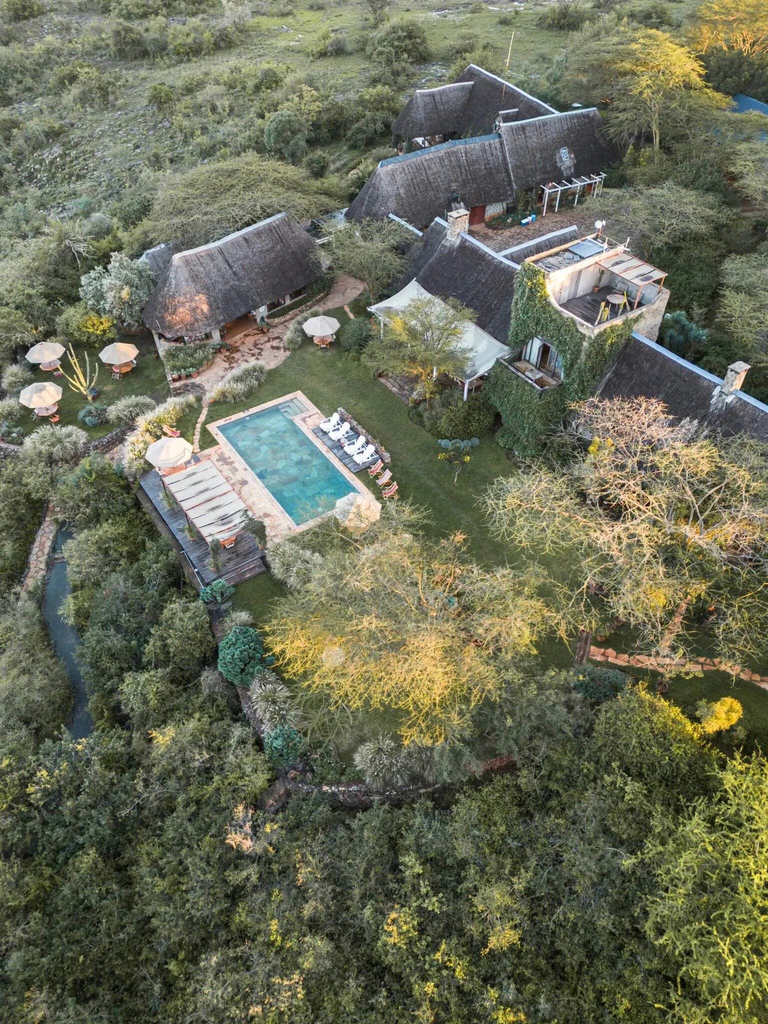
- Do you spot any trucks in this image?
No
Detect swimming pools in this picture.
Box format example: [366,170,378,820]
[205,390,375,537]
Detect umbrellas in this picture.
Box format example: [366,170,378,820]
[147,442,193,474]
[334,498,382,534]
[100,346,140,374]
[26,346,68,374]
[21,387,64,416]
[302,320,340,346]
